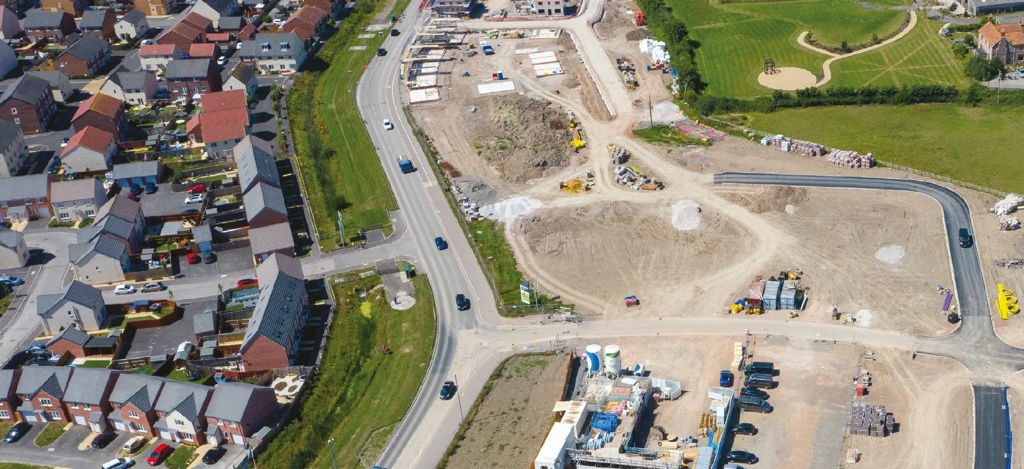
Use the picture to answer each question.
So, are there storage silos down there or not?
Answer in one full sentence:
Yes, the picture does show a storage silo.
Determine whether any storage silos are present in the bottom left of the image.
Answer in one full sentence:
No, no storage silo is visible in the bottom left of the image.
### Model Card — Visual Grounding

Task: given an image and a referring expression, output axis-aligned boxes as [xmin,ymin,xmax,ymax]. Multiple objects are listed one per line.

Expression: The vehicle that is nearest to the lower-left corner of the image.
[3,418,33,440]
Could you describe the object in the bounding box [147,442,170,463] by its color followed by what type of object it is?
red car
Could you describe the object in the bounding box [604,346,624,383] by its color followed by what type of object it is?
white silo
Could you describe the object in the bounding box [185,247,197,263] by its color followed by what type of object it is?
red vehicle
